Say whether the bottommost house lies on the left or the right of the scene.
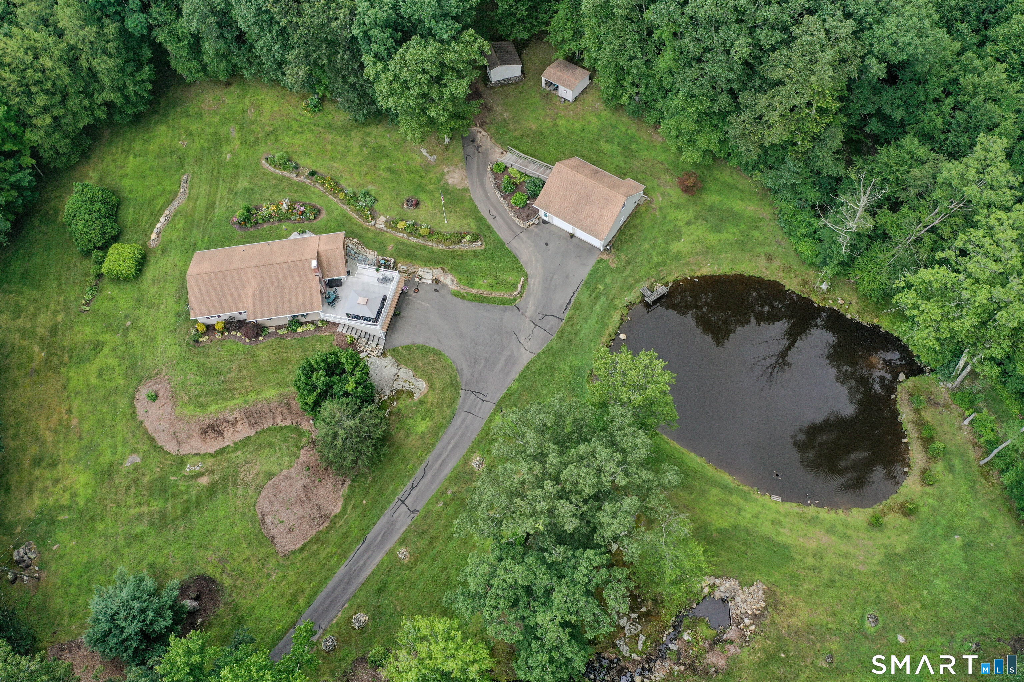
left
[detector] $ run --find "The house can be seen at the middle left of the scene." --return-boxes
[185,231,349,328]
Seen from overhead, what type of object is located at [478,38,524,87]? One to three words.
shed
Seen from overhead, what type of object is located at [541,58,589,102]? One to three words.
shed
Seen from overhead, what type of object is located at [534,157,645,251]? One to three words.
building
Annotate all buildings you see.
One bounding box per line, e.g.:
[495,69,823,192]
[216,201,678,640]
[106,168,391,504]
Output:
[534,157,645,251]
[541,58,589,102]
[185,231,349,328]
[478,38,524,87]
